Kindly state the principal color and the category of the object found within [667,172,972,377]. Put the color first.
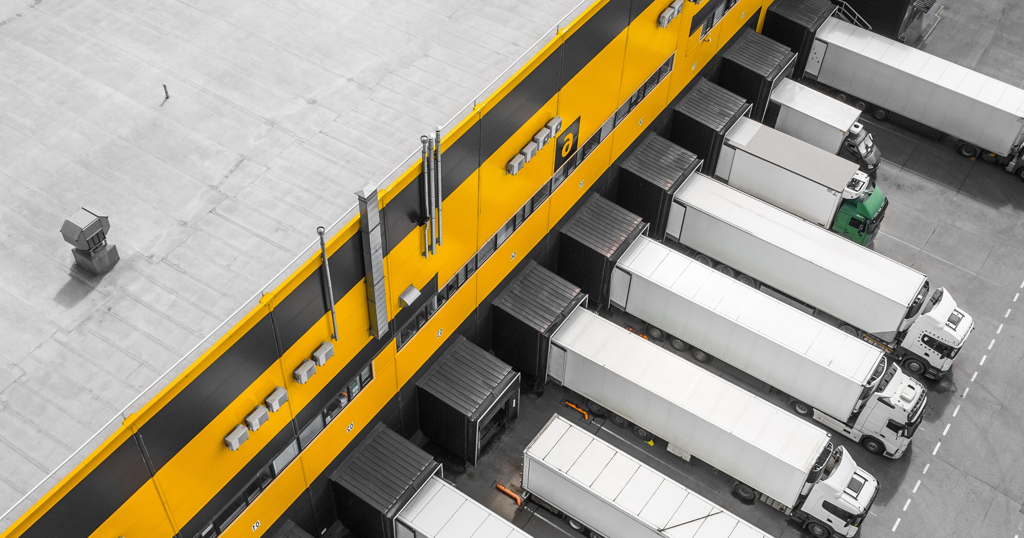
white truck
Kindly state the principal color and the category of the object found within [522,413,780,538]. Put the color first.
white truck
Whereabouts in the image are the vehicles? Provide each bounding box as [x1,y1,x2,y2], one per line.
[667,172,972,377]
[612,235,931,458]
[797,17,1024,177]
[763,76,884,177]
[522,413,780,538]
[550,305,881,538]
[399,474,538,538]
[719,116,889,248]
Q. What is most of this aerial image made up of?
buildings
